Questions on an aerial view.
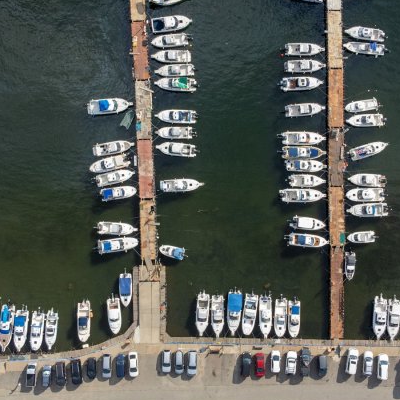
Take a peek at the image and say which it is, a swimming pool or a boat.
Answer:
boat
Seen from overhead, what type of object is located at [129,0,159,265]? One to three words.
pier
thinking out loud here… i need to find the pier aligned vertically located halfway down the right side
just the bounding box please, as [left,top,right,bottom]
[325,0,348,339]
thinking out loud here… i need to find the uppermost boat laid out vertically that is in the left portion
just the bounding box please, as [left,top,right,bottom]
[120,268,133,307]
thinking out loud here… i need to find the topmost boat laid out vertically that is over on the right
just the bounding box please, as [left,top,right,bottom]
[343,246,358,284]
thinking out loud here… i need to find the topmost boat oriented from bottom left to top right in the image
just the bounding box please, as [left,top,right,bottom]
[118,111,134,130]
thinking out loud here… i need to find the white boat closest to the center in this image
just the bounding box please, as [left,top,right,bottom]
[151,178,205,193]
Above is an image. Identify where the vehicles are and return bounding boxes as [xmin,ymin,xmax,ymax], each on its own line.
[128,351,139,377]
[25,362,38,388]
[377,353,389,380]
[116,353,126,377]
[174,350,184,373]
[345,348,359,375]
[186,350,198,375]
[300,348,312,377]
[317,354,329,377]
[241,352,252,377]
[86,357,96,379]
[255,352,266,377]
[362,350,374,376]
[286,350,297,375]
[270,350,280,373]
[102,353,112,377]
[54,361,66,387]
[70,359,82,385]
[161,349,171,373]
